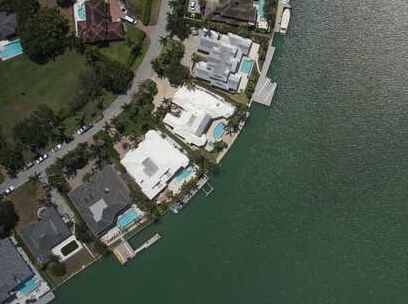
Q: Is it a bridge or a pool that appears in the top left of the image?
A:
pool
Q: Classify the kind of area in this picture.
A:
residential area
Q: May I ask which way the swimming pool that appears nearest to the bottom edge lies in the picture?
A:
diagonally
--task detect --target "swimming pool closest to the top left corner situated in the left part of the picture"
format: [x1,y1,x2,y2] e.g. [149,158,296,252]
[0,39,23,62]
